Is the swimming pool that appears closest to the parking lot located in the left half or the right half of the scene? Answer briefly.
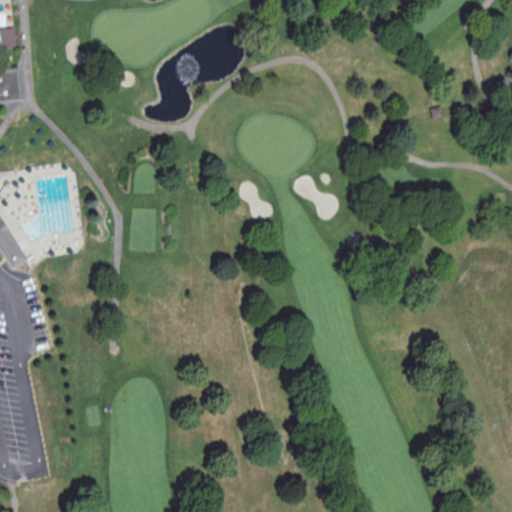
left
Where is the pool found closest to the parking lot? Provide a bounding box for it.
[0,164,84,270]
